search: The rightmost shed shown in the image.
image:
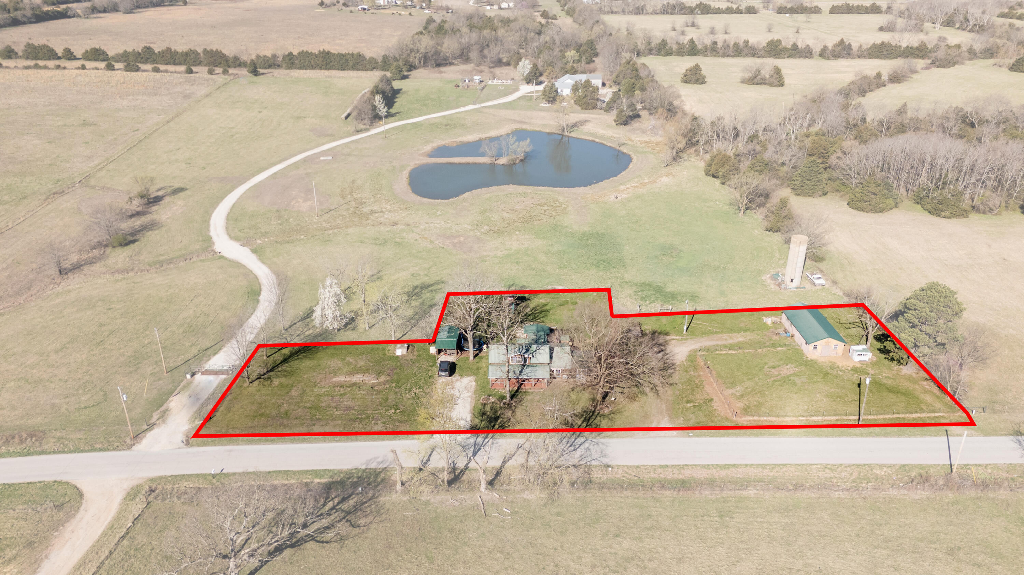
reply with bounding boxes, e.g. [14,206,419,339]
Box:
[850,344,871,361]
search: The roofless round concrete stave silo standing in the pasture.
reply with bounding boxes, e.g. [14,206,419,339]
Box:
[784,234,807,285]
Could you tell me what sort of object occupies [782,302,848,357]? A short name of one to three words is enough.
barn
